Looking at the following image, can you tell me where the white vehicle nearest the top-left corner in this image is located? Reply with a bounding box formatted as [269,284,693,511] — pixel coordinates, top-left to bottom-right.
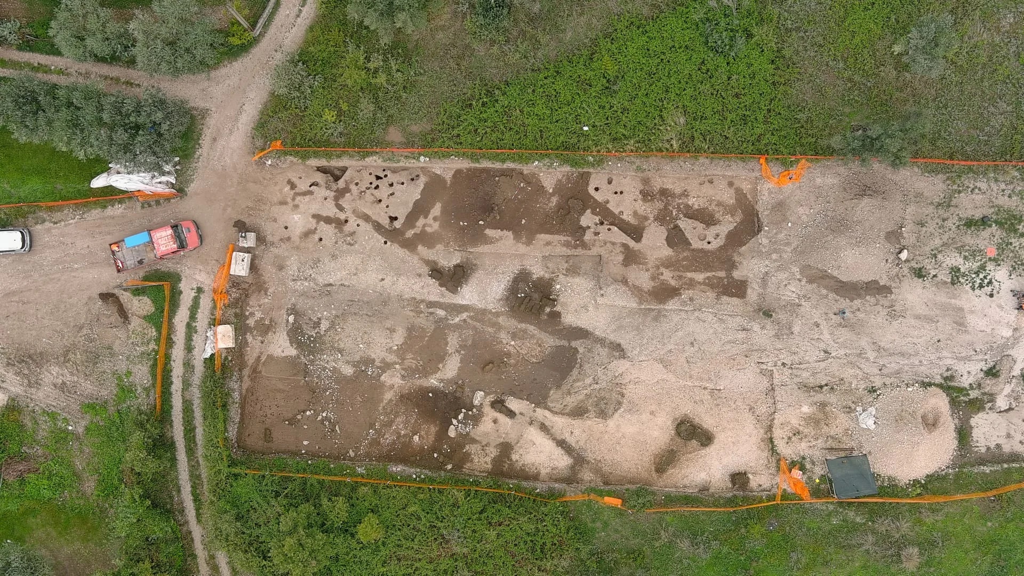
[0,226,34,255]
